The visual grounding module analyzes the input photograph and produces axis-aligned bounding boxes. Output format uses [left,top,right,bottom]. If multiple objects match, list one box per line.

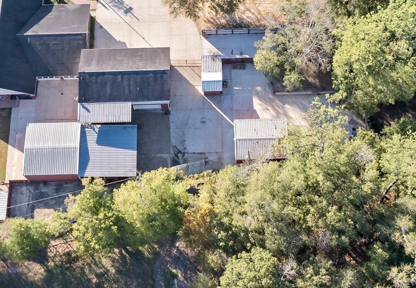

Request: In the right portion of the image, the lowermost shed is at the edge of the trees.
[232,117,288,165]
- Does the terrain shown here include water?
No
